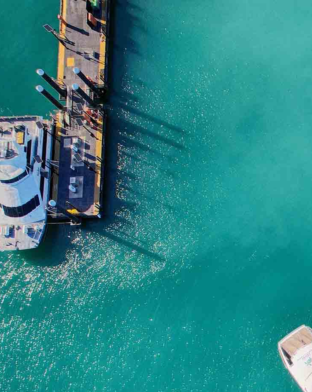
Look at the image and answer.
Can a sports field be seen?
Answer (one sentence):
No, the photo shows no sports field.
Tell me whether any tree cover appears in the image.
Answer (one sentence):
No, there is no tree cover in the image.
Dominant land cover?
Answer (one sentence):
What you mostly see from above here is water.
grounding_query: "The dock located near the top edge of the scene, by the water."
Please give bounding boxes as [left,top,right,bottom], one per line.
[57,0,113,91]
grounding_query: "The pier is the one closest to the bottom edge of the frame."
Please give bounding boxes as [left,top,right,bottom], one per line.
[49,110,108,218]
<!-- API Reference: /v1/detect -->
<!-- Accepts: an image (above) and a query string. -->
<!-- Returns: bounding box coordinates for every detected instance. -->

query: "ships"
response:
[0,116,54,252]
[278,326,312,392]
